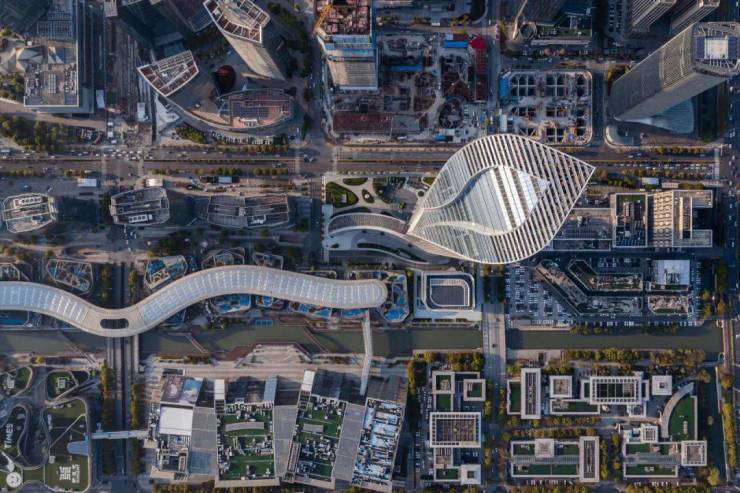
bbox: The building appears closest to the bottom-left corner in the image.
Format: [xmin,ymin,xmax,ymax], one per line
[67,437,92,456]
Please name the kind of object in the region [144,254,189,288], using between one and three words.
building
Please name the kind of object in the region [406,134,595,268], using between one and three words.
building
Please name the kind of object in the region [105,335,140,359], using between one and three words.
bridge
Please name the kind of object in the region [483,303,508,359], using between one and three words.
bridge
